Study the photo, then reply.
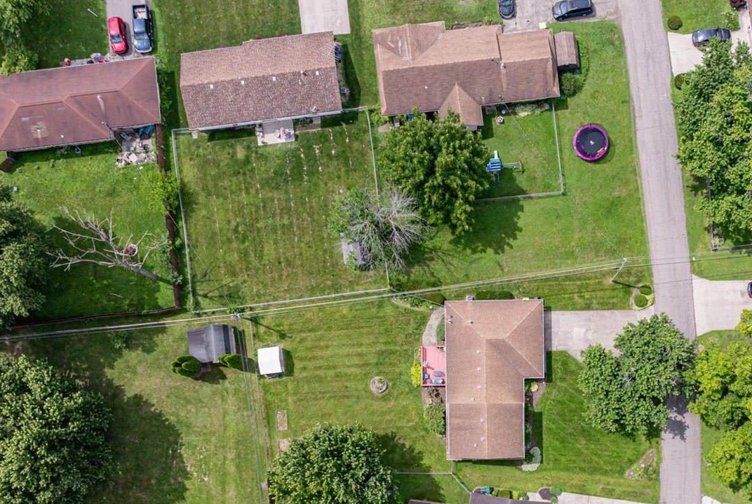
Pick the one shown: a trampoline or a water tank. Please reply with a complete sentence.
The image shows a trampoline.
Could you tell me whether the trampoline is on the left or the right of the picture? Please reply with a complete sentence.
The trampoline is on the right side of the image.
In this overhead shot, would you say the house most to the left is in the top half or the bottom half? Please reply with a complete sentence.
The house most to the left is in the top half of the image.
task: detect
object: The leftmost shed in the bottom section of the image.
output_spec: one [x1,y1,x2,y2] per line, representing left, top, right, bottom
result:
[186,324,235,369]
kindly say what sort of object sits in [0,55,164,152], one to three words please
house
